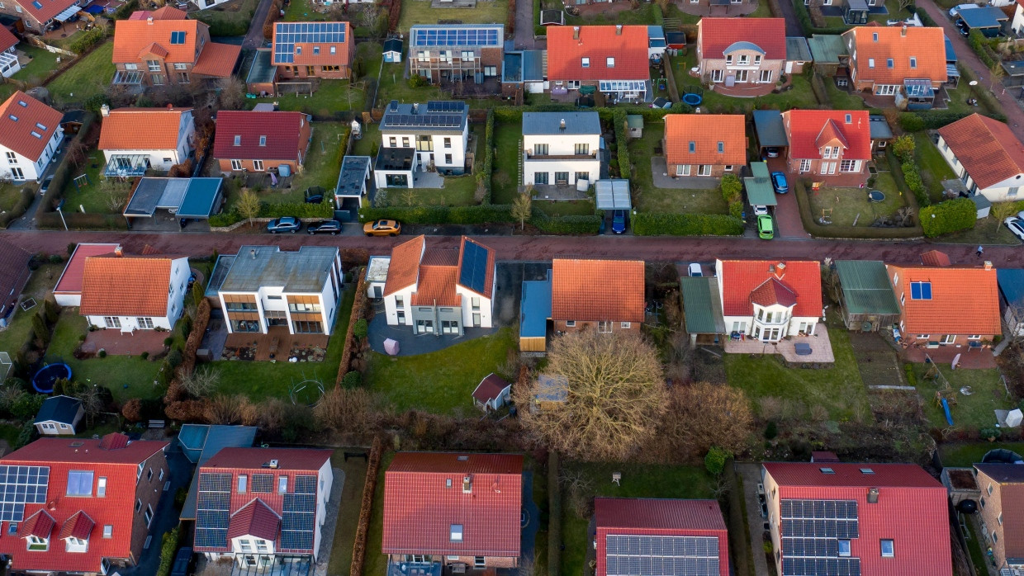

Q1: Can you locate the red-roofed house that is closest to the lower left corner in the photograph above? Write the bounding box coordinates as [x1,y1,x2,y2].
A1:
[0,433,173,576]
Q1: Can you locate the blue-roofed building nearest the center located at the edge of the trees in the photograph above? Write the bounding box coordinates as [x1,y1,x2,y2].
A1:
[520,281,546,354]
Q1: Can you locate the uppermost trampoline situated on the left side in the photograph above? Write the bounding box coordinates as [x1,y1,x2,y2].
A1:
[302,180,325,205]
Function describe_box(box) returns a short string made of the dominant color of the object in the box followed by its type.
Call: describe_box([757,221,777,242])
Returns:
green car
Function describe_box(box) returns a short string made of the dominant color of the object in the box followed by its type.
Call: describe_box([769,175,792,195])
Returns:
blue car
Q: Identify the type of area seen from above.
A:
residential area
